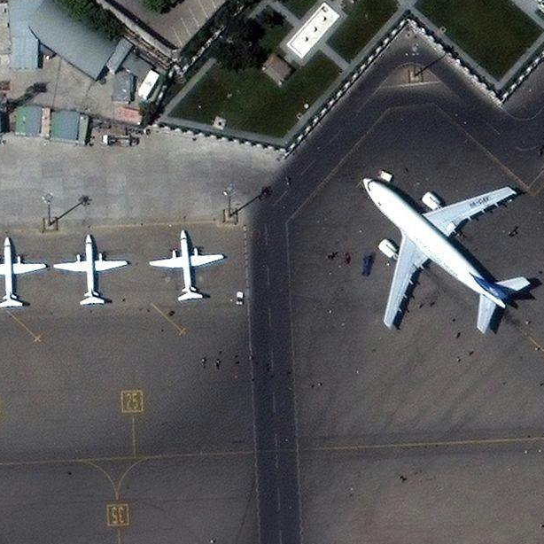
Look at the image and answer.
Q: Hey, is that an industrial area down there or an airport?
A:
airport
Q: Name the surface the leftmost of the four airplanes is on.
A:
apron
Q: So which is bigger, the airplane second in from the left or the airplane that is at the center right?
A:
the airplane that is at the center right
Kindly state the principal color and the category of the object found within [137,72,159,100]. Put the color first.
white truck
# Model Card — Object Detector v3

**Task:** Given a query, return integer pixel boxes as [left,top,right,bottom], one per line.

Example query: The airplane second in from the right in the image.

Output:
[150,230,223,301]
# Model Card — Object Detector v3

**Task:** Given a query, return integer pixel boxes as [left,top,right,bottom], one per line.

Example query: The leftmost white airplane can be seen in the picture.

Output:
[0,237,45,309]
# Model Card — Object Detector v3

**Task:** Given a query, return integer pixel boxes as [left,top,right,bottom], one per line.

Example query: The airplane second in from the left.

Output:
[54,234,128,306]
